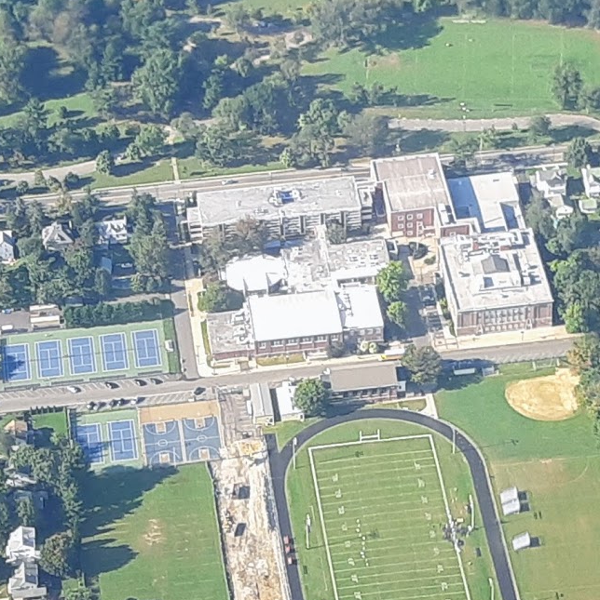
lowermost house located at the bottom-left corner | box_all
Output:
[11,562,46,600]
